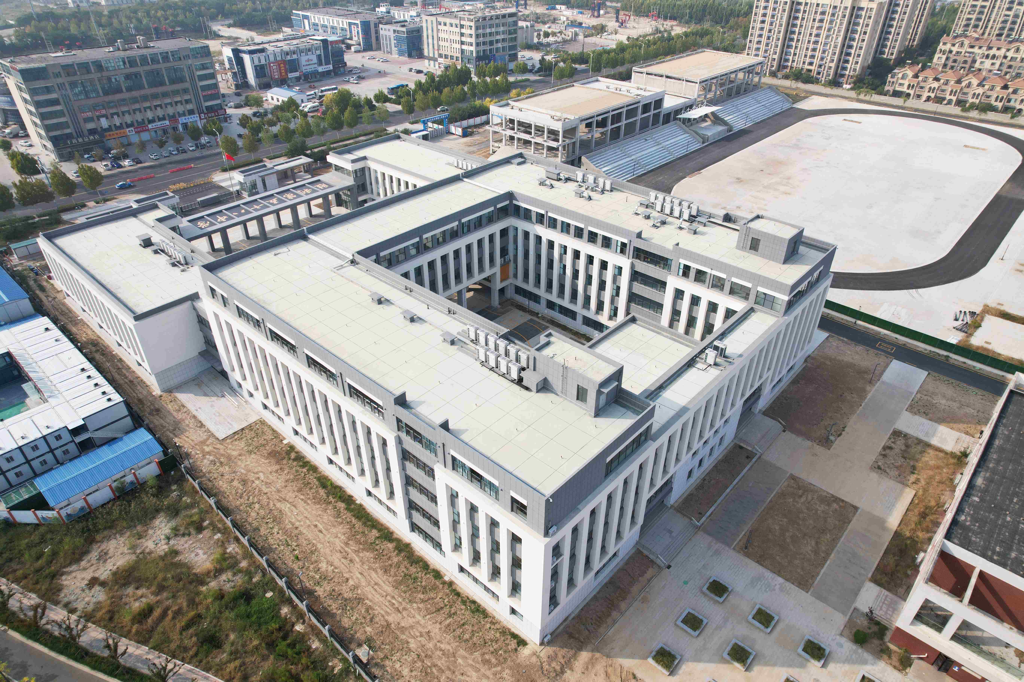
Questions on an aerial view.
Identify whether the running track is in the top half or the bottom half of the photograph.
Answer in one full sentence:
It is in the top half that the running track appears.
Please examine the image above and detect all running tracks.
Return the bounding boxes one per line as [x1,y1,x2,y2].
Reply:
[629,107,1024,290]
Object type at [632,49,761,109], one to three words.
building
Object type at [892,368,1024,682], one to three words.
building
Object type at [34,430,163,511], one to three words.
shed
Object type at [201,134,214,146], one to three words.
vehicle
